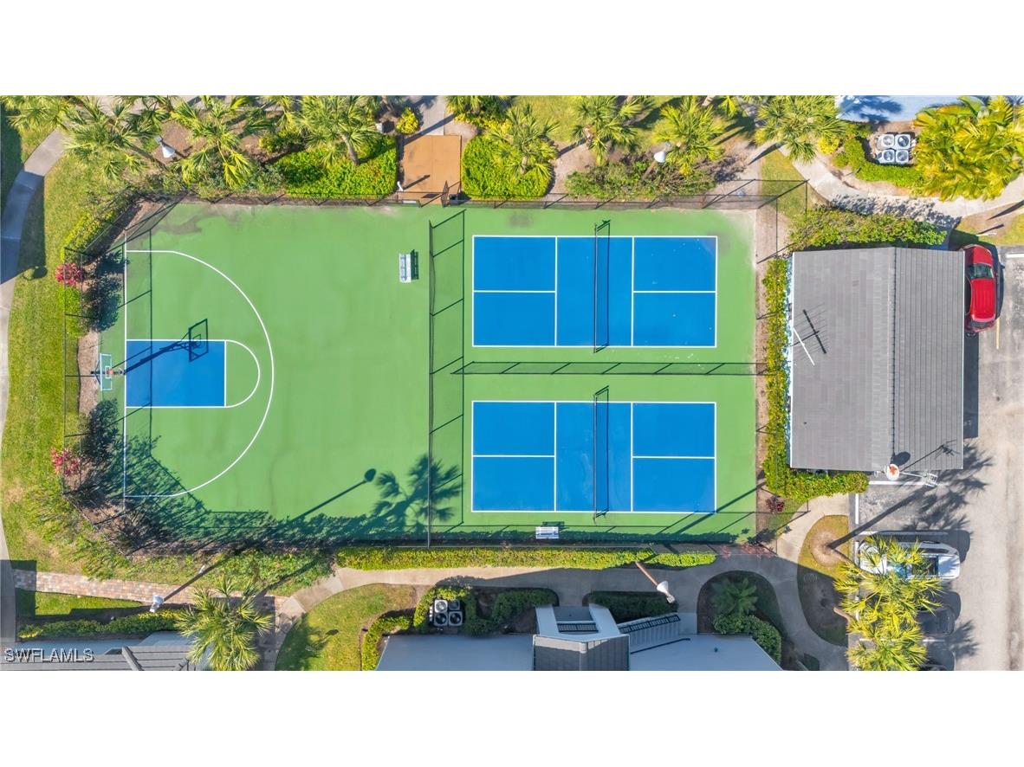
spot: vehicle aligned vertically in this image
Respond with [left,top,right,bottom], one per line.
[962,249,1001,336]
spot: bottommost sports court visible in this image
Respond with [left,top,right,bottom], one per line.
[433,374,755,541]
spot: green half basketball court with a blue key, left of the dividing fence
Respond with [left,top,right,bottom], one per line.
[100,204,433,541]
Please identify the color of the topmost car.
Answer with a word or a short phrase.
red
